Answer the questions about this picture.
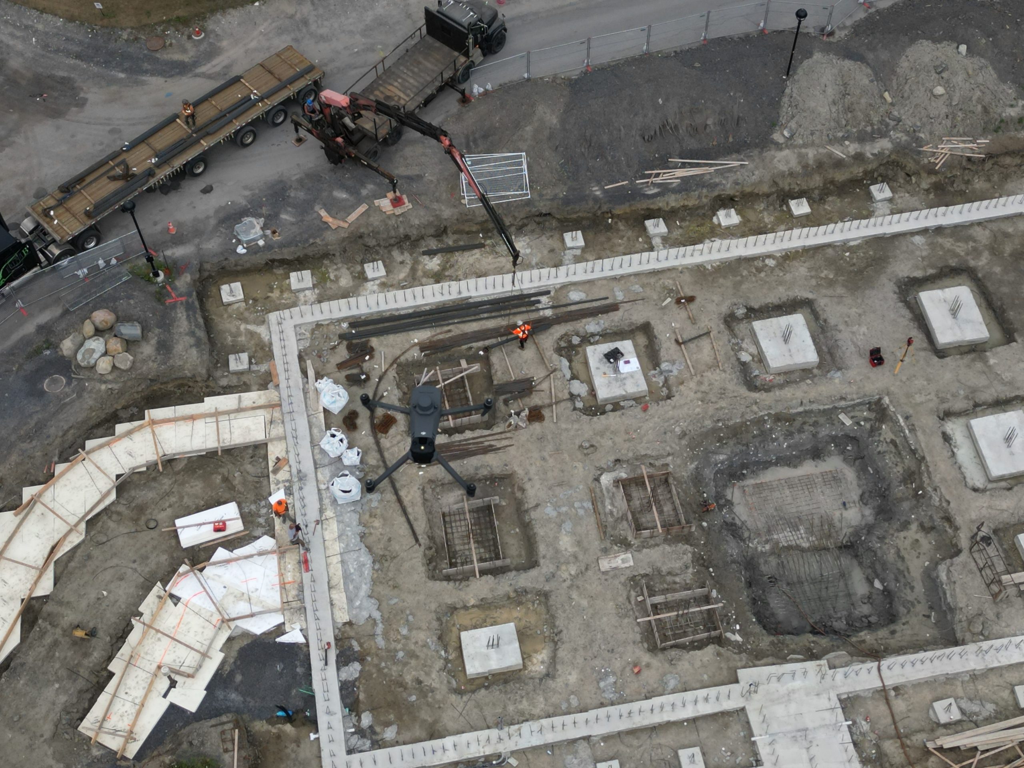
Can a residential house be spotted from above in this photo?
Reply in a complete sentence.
No, I can't see a single residential house in this photo.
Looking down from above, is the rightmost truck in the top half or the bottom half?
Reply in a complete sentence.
The rightmost truck sits in the top half of the picture.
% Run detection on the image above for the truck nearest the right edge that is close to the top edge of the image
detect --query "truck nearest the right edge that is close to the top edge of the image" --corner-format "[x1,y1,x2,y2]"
[294,0,524,287]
